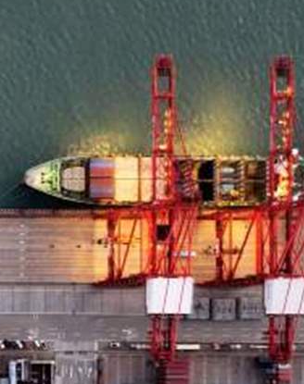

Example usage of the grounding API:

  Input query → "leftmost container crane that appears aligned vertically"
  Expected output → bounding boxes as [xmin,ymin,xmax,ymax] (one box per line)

[93,55,213,359]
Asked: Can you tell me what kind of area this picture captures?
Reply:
port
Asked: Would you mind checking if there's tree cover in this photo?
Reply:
No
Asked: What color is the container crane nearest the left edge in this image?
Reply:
red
